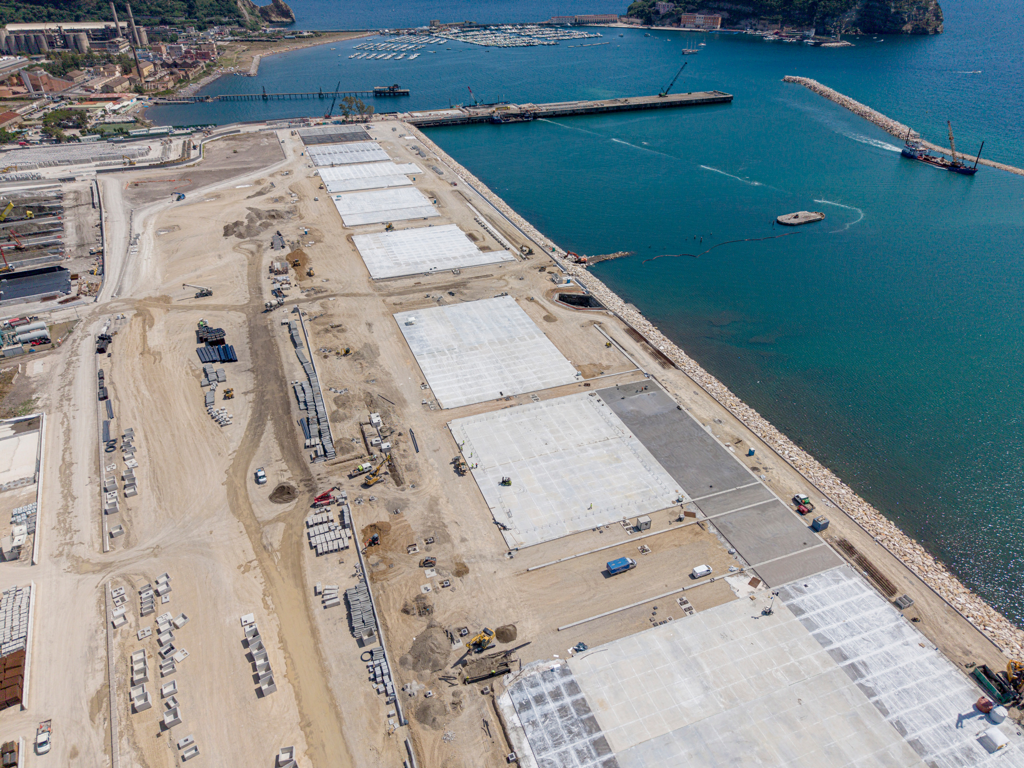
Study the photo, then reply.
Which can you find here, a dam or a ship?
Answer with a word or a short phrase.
ship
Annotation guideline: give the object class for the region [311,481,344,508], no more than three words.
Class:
work vehicle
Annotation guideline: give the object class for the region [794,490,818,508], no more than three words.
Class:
vehicle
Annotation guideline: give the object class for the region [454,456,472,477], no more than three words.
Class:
work vehicle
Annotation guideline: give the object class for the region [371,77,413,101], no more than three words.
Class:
pier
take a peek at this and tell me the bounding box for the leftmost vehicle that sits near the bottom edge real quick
[32,719,51,753]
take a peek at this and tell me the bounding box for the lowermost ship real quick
[775,211,829,225]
